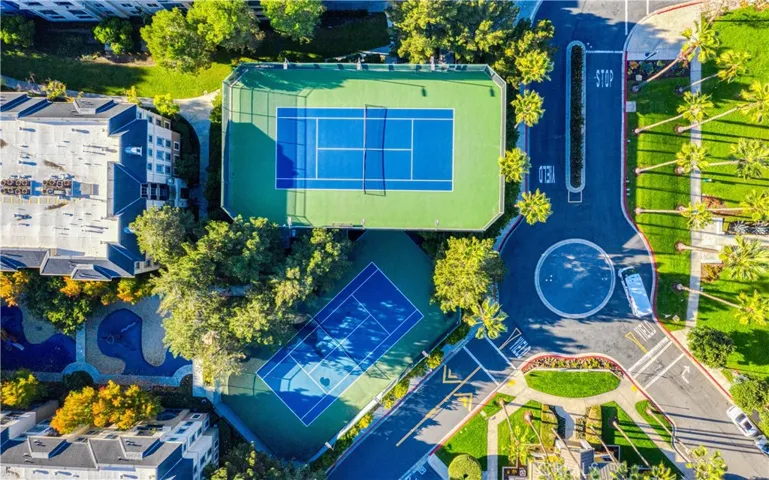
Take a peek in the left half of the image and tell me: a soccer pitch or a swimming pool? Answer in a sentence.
It is a swimming pool that can be seen in the left half of the image.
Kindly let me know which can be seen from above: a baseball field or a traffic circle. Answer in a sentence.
I can see a traffic circle in this picture.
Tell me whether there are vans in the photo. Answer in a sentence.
Yes, you can see a van in this photo.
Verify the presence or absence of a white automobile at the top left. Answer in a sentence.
No, I can find no white automobile at the top left.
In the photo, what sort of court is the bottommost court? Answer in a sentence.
From above, the bottommost court can be identified as a tennis court.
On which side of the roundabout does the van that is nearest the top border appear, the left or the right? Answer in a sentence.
Relative to the roundabout, the van that is nearest the top border lies to the right.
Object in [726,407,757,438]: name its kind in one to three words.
car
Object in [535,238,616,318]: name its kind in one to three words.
roundabout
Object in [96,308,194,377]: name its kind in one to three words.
swimming pool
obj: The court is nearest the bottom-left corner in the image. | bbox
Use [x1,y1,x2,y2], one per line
[219,231,460,461]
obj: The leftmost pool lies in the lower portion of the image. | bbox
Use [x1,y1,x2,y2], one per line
[0,302,76,372]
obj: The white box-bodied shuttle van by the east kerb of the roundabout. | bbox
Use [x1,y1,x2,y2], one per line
[618,266,655,318]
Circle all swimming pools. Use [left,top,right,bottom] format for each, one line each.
[96,308,194,377]
[0,302,76,372]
